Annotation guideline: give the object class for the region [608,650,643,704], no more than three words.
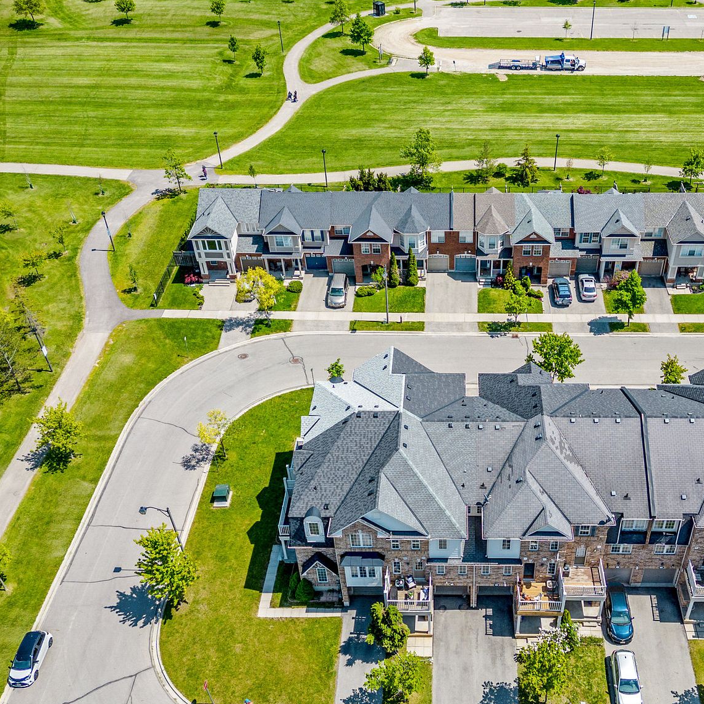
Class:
car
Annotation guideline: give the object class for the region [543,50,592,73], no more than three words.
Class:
truck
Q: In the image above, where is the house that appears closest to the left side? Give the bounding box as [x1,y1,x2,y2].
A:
[188,188,268,285]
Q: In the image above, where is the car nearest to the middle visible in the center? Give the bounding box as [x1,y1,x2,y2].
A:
[327,272,350,305]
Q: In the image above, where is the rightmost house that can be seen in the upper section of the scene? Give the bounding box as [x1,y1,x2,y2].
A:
[637,193,704,285]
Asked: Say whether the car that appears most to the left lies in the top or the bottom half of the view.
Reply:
bottom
